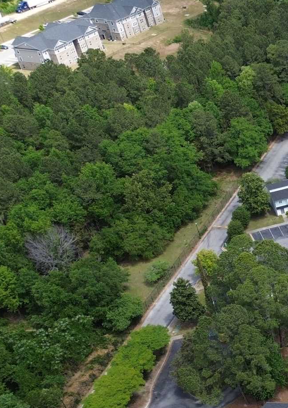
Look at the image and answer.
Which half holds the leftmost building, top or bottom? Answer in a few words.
top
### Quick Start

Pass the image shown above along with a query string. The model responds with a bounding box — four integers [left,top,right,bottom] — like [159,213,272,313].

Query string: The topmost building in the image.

[90,0,166,43]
